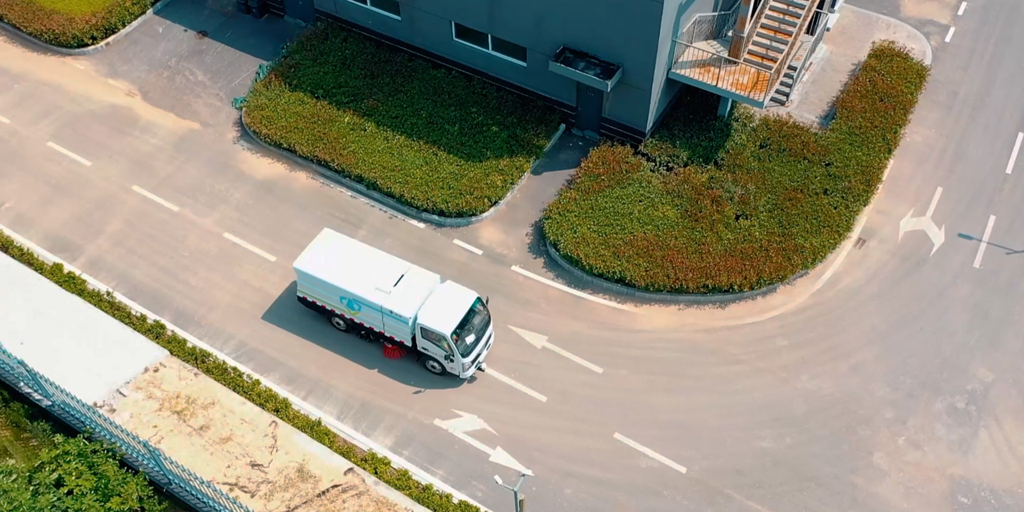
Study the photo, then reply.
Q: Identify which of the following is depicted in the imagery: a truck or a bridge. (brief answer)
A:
truck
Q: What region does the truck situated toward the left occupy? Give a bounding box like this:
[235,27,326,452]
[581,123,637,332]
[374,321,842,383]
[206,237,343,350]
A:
[292,230,497,381]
